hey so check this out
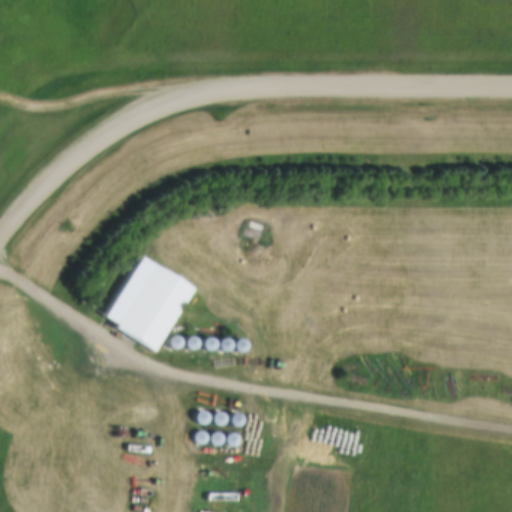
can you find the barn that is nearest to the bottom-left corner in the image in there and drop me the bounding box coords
[107,256,196,352]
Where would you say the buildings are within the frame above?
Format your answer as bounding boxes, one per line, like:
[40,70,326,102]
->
[107,256,196,352]
[244,221,264,242]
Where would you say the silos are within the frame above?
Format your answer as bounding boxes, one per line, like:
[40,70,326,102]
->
[202,335,218,353]
[235,337,251,355]
[210,430,227,450]
[168,334,184,352]
[230,410,247,430]
[226,432,243,449]
[214,409,230,428]
[219,336,235,354]
[196,408,212,428]
[185,334,202,353]
[194,430,210,448]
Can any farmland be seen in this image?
Yes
